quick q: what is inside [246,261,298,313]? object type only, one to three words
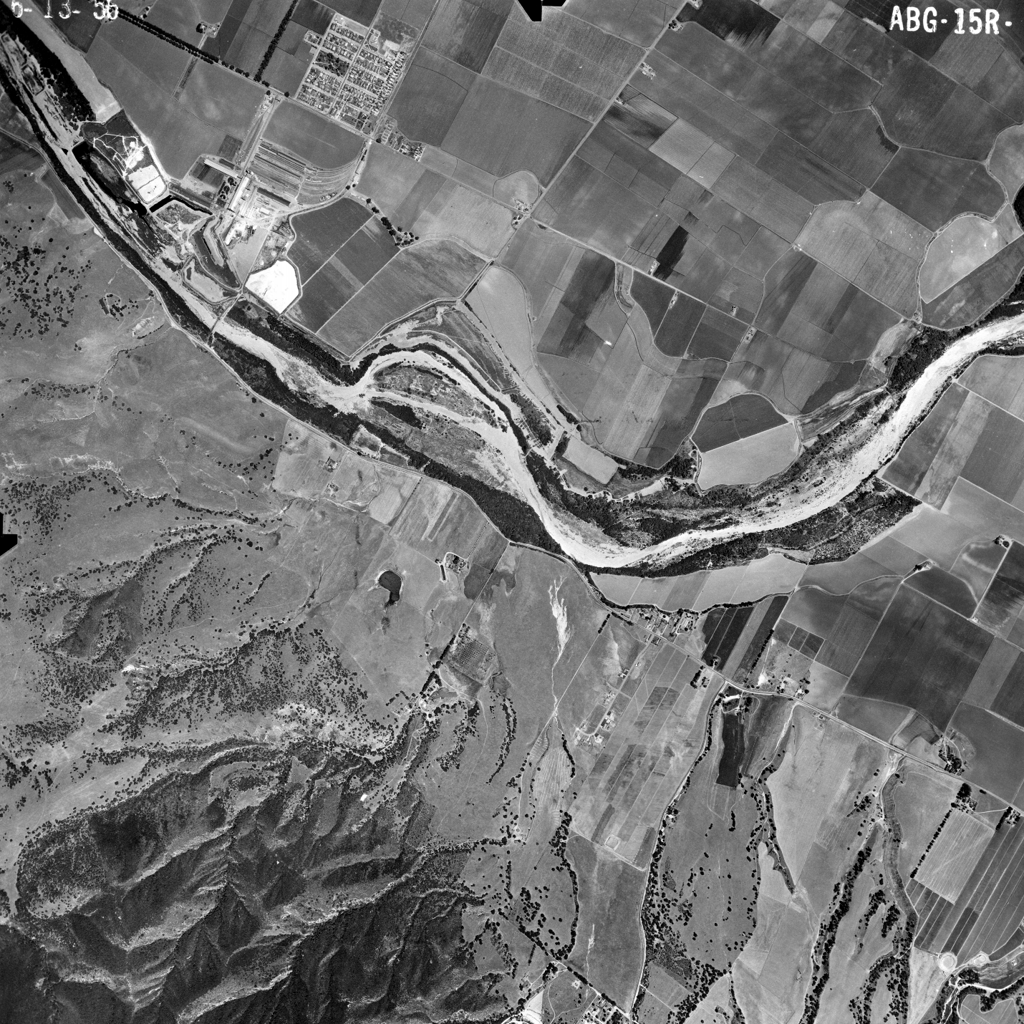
pond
